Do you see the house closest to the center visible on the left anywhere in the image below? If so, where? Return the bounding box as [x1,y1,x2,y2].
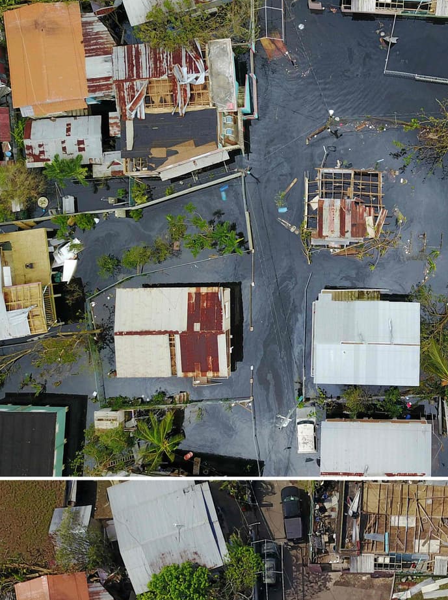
[115,286,238,378]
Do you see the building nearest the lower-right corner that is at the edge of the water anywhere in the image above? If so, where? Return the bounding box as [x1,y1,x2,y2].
[331,480,448,575]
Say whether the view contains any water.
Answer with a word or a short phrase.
Yes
